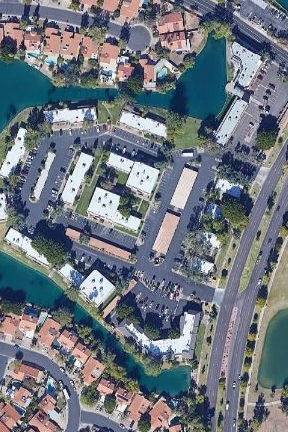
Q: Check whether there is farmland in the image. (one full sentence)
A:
No, the scene doesn't show any farmland.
